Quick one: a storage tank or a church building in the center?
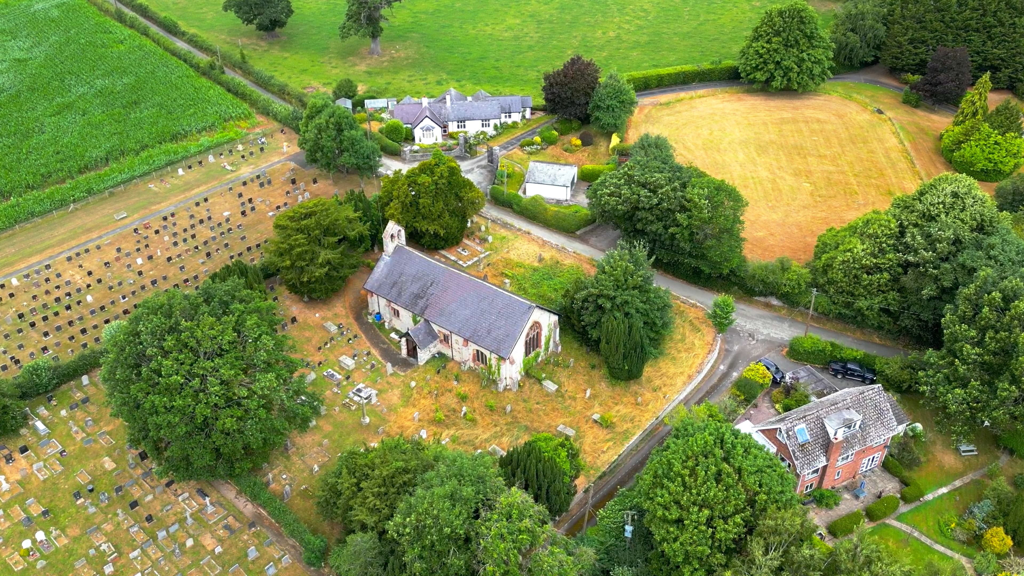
church building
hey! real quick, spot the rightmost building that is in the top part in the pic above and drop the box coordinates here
[525,162,577,199]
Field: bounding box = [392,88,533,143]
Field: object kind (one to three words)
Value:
house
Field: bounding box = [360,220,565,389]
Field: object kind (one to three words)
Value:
church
